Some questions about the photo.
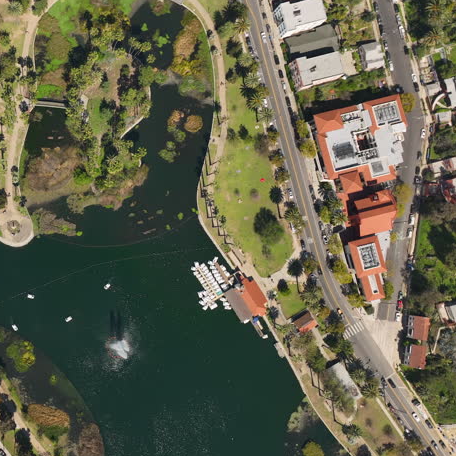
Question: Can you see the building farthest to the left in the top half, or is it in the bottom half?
bottom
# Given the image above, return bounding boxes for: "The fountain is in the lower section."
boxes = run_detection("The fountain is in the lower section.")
[104,336,132,358]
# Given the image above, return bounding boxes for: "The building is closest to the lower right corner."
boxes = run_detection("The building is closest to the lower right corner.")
[400,344,428,370]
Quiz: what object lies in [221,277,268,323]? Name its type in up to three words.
building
